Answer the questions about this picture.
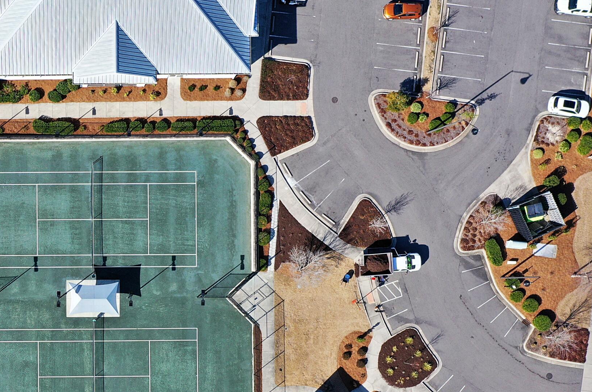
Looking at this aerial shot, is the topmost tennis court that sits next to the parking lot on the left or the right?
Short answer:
left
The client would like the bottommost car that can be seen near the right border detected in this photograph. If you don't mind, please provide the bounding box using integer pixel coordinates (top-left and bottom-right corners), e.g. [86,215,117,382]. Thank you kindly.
[545,99,589,118]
